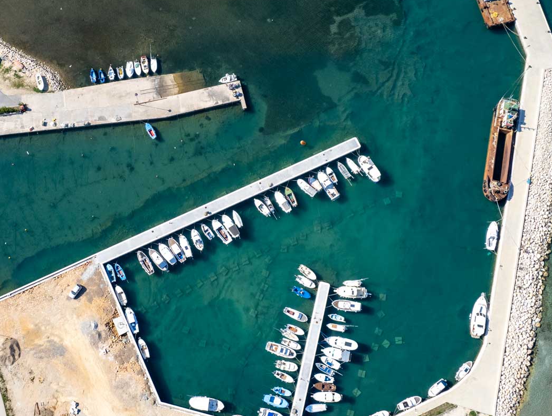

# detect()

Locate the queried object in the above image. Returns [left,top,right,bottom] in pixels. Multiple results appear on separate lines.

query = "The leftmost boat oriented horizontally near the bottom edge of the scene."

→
[187,396,224,414]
